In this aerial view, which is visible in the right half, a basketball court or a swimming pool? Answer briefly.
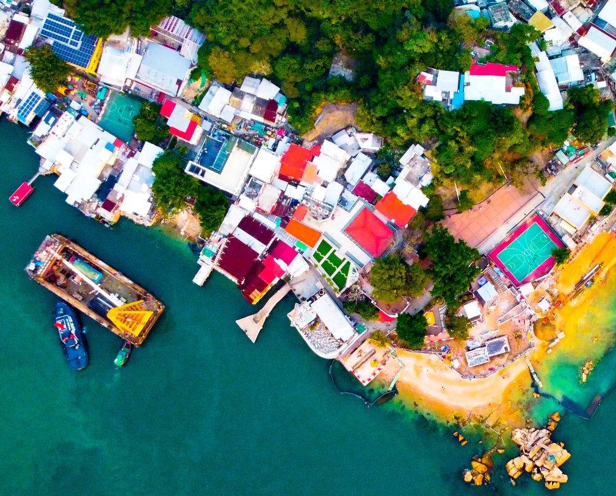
basketball court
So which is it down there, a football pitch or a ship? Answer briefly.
ship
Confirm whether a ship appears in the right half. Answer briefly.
No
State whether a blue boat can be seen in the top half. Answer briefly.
No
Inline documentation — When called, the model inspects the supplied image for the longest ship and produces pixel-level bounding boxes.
[25,234,166,346]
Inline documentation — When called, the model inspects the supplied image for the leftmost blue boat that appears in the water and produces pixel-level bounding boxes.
[54,300,87,369]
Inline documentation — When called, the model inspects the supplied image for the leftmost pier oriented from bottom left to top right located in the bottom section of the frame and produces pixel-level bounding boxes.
[236,284,291,343]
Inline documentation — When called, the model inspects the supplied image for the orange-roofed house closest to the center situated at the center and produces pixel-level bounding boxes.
[285,219,322,247]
